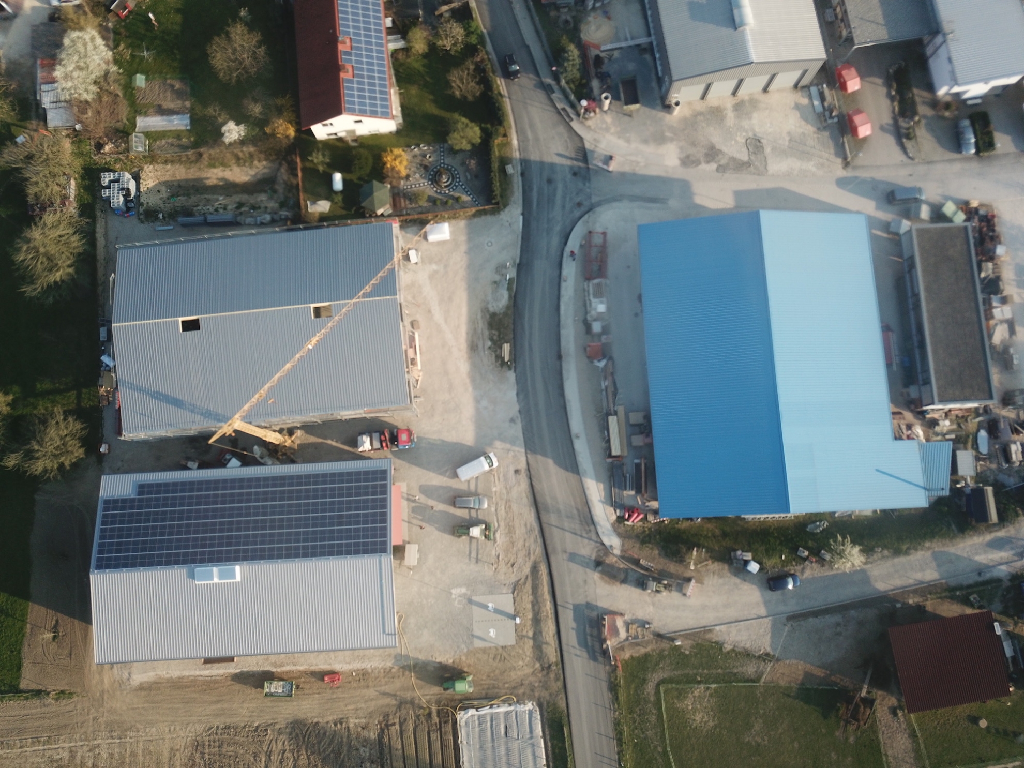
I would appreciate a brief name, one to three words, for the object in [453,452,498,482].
van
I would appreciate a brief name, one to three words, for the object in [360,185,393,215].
gazebo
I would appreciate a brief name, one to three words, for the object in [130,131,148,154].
greenhouse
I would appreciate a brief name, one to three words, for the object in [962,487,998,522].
shed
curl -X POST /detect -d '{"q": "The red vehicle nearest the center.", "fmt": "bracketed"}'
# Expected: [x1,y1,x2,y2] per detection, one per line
[355,427,415,451]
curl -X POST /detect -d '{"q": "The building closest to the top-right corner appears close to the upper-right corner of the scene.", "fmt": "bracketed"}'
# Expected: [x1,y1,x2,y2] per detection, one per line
[916,0,1024,102]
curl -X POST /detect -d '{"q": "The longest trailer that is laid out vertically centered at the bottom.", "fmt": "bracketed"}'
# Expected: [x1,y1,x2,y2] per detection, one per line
[606,613,628,668]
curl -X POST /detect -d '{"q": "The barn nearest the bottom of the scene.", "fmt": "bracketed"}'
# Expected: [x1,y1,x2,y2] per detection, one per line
[887,610,1010,713]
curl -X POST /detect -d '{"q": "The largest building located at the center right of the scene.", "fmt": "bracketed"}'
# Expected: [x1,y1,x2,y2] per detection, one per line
[637,210,926,518]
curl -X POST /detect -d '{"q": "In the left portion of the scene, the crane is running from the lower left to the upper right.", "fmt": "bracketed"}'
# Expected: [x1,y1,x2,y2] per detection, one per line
[208,226,436,465]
